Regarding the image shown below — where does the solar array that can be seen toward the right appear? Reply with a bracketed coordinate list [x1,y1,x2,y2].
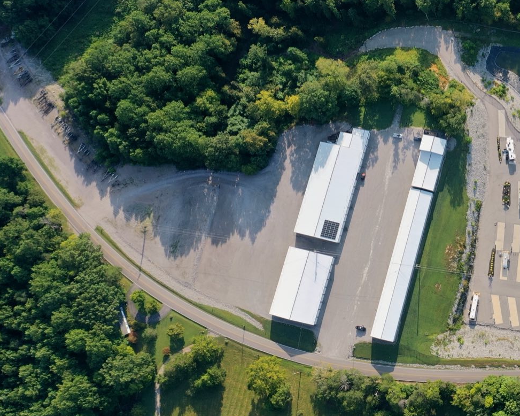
[321,221,339,239]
